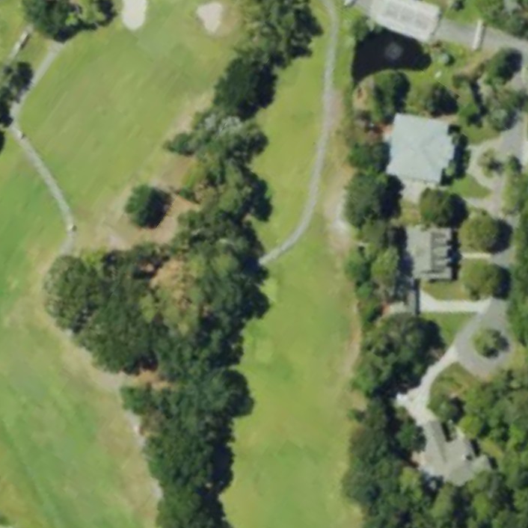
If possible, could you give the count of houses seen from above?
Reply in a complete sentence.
The picture shows 3 houses.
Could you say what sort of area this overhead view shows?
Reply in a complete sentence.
What you see here is a golf course.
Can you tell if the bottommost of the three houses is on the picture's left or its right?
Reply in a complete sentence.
The bottommost of the three houses is on the right side of the image.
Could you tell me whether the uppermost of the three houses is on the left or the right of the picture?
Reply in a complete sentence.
The uppermost of the three houses sits on the right side.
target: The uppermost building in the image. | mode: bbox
[380,112,458,181]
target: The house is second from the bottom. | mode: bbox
[405,225,454,314]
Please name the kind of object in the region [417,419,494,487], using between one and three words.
house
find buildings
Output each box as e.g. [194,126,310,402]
[417,419,494,487]
[405,225,454,314]
[380,112,458,181]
